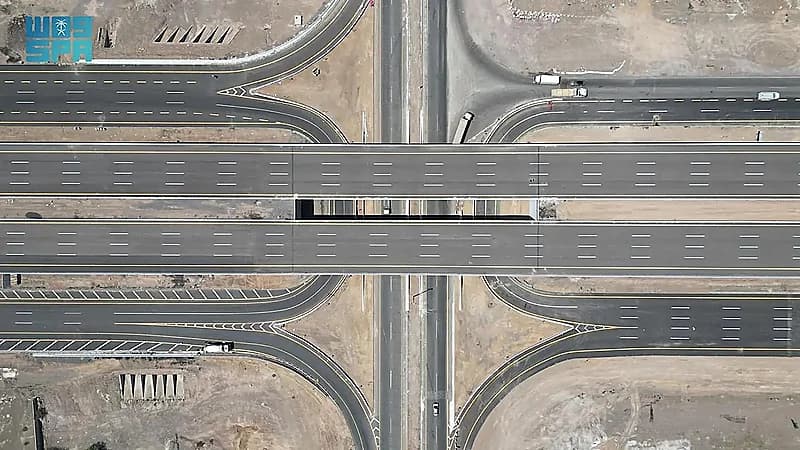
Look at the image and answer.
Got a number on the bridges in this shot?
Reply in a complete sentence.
The count of bridges comes to 2.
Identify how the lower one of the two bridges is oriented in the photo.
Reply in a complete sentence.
From this overhead view, the lower one of the two bridges appears to run from side to side.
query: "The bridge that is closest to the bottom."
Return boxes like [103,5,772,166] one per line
[291,219,541,277]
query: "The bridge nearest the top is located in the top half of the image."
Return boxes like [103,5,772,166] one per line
[291,141,541,200]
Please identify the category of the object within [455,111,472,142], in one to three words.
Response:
vehicle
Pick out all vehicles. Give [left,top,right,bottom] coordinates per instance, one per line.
[384,200,391,214]
[533,73,562,84]
[455,111,472,142]
[759,91,780,99]
[570,80,585,86]
[433,403,439,416]
[201,345,229,353]
[552,87,588,96]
